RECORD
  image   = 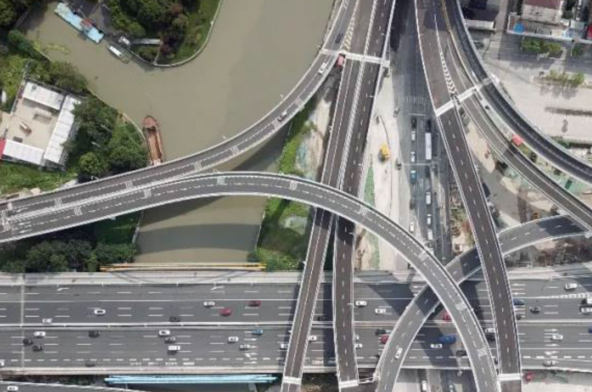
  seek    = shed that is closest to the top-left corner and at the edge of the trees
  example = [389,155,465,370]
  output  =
[22,81,66,111]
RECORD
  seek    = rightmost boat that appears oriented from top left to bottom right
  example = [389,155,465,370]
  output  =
[110,44,133,66]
